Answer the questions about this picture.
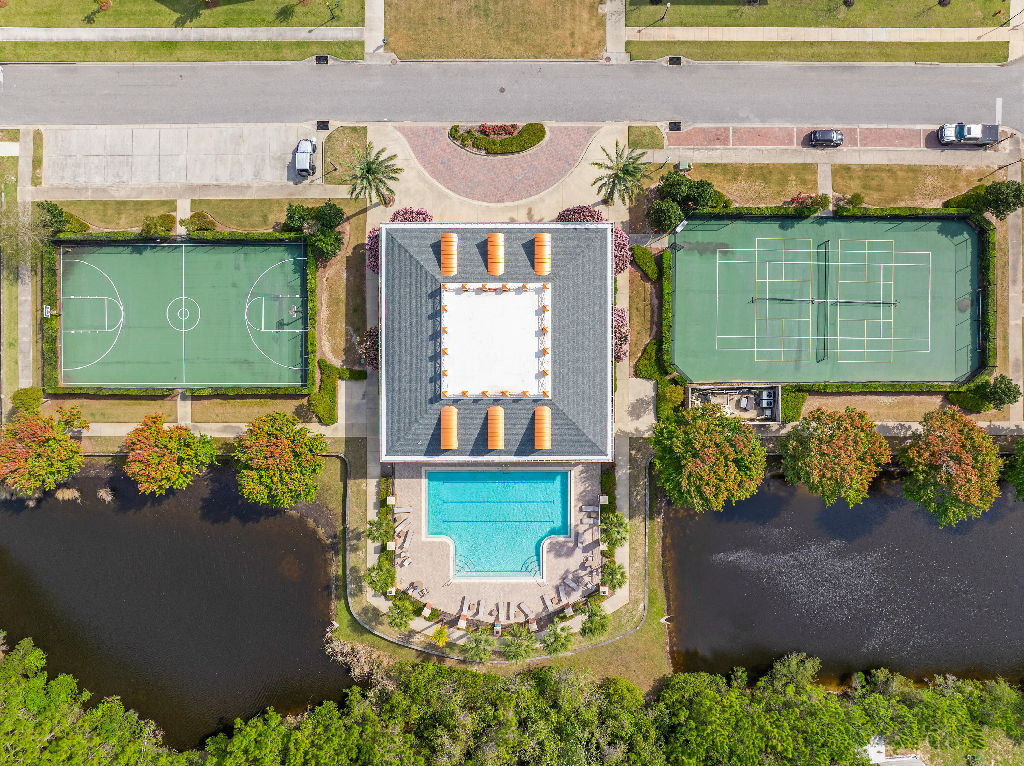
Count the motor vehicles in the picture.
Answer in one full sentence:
Altogether the scene contains 3 motor vehicles.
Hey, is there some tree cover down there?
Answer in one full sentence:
Yes, there is tree cover in the image.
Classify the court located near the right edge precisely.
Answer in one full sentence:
Looking closely, the court located near the right edge is a tennis court.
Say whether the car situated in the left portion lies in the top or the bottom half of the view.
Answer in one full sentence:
It is in the top half that the car situated in the left portion appears.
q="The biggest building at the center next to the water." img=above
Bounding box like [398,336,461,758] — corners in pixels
[380,222,613,463]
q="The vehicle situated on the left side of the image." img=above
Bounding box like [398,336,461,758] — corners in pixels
[295,135,317,175]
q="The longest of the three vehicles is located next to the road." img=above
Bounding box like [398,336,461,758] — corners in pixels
[937,122,997,147]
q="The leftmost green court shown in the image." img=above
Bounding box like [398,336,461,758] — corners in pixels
[57,241,308,388]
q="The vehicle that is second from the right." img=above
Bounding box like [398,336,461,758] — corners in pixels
[809,125,844,145]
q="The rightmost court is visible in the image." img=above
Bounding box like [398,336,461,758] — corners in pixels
[670,217,978,383]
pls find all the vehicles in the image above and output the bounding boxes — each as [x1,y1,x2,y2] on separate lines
[295,135,317,175]
[809,125,844,145]
[937,122,997,147]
